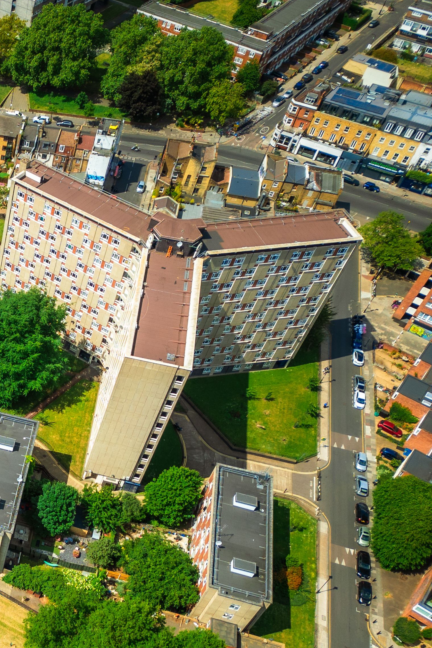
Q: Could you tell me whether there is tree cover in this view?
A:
Yes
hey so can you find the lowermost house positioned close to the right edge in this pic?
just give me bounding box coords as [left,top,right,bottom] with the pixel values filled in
[392,583,432,629]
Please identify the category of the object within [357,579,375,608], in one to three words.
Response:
car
